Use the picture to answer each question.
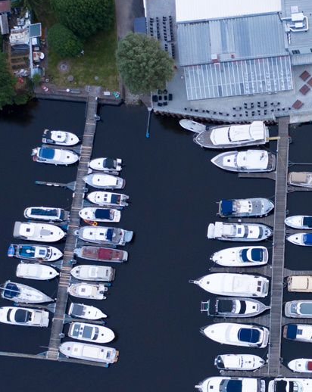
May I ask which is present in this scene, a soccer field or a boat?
boat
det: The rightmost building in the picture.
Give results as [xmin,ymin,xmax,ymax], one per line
[175,0,312,103]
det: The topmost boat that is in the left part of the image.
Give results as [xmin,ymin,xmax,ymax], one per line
[39,130,83,149]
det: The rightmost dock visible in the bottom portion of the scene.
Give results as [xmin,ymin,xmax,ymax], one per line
[209,123,312,381]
